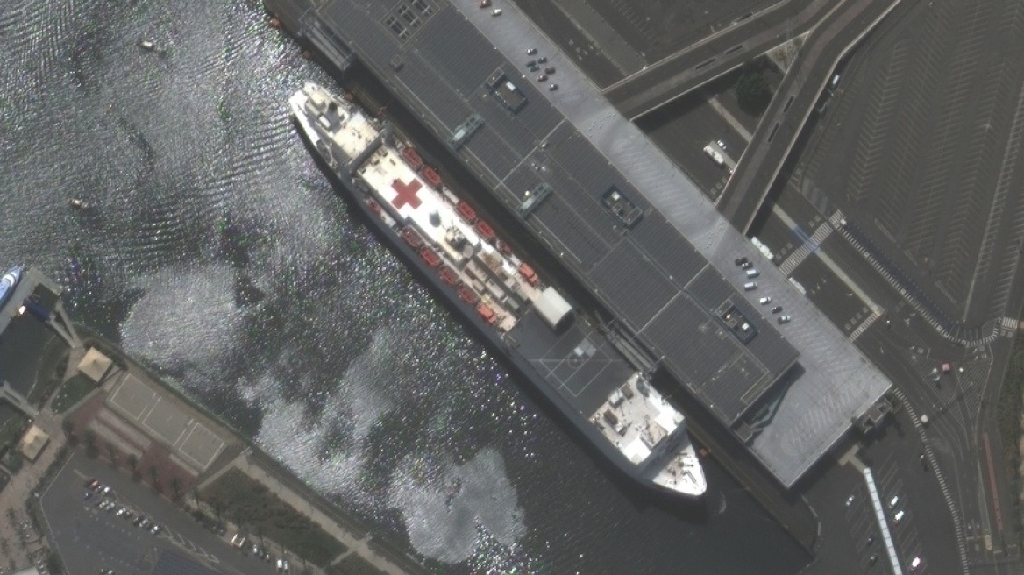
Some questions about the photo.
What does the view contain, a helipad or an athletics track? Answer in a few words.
helipad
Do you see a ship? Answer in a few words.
Yes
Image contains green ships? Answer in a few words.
No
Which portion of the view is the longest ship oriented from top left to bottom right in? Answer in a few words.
center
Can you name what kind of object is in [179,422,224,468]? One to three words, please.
sports court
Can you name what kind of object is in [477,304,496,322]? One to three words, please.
boat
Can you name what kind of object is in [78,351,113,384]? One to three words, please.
tent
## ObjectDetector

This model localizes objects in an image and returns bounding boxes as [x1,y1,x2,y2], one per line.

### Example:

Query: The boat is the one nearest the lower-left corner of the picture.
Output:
[0,267,21,308]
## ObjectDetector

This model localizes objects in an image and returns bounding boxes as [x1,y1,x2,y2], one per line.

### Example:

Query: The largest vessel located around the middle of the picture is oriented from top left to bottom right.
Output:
[286,55,736,496]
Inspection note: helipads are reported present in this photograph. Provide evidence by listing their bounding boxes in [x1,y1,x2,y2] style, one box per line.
[529,325,627,396]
